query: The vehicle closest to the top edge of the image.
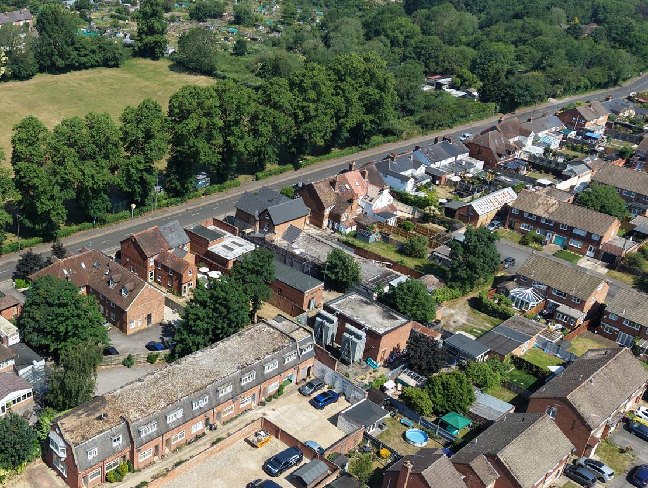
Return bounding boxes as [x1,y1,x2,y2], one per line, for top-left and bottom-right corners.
[459,128,473,140]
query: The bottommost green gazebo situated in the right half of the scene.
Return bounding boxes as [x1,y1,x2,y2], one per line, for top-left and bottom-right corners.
[439,418,477,443]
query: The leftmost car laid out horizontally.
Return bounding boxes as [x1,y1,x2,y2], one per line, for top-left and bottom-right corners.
[96,344,124,356]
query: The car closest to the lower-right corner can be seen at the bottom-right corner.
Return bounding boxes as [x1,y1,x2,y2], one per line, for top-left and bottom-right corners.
[628,466,648,488]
